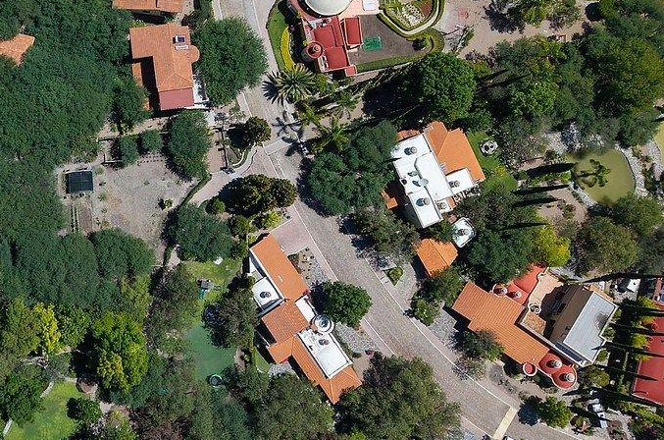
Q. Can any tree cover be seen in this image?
Yes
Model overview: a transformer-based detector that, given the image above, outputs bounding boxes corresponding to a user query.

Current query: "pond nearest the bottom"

[566,148,634,204]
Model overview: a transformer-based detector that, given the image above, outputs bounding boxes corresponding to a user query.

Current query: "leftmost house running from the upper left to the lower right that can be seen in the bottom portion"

[245,233,358,402]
